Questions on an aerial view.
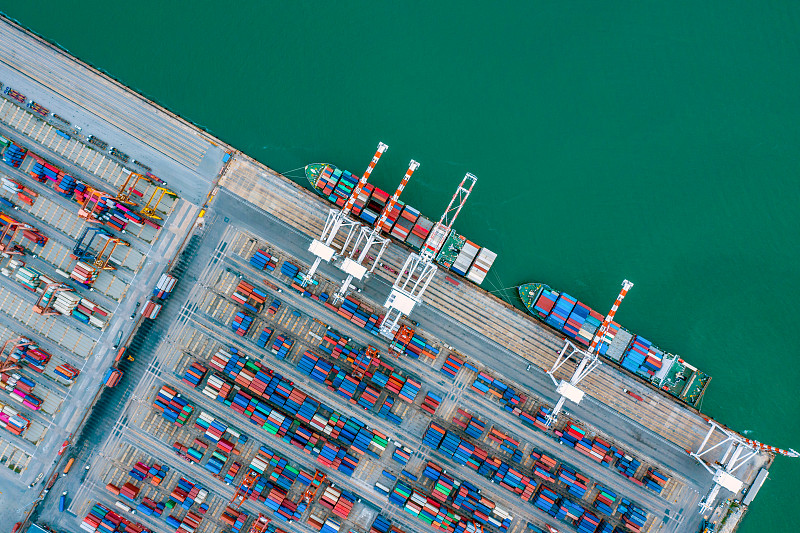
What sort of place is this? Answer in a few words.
port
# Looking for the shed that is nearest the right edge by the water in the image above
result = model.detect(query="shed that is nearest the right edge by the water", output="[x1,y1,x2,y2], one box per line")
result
[738,466,768,506]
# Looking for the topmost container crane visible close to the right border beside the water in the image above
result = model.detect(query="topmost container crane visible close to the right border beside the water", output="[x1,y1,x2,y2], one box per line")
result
[683,417,800,515]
